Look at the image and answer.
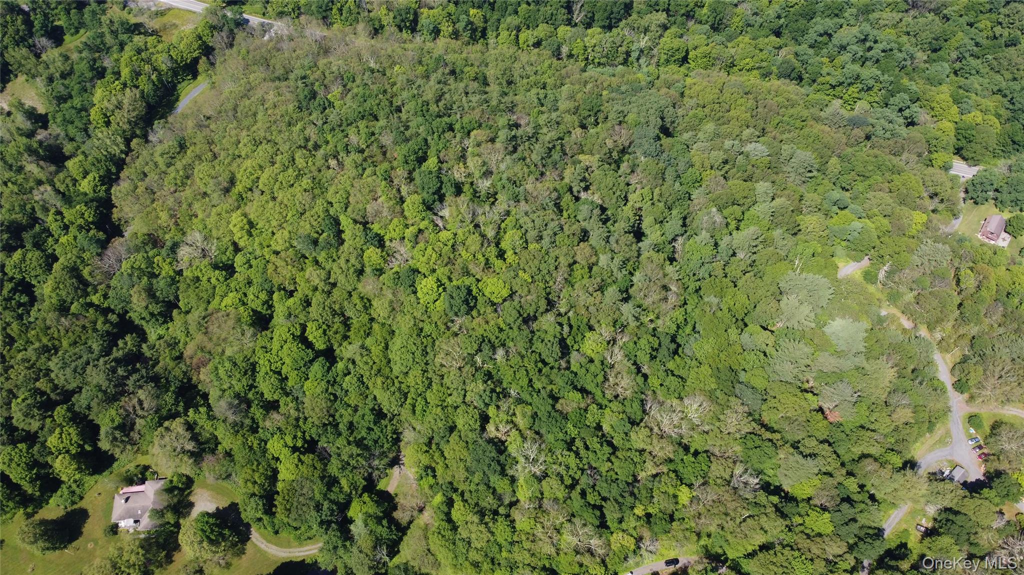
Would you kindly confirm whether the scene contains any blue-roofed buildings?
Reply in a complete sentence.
No, I can't see a single blue-roofed building in this photo.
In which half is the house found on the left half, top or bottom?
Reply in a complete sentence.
The bottom half of the photo is where the house found on the left half is.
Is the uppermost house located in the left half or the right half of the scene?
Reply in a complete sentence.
It is on the right.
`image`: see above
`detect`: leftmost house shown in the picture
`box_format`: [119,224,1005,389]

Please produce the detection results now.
[106,472,171,533]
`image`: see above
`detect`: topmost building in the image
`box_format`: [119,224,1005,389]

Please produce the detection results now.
[973,216,1011,249]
